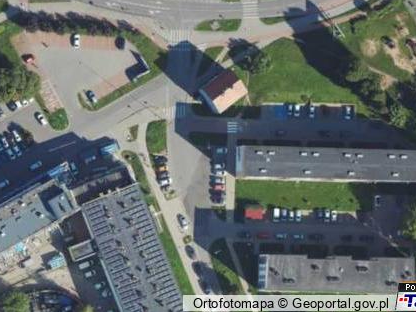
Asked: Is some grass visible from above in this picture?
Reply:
Yes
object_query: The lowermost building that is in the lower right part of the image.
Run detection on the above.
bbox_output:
[260,254,415,293]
